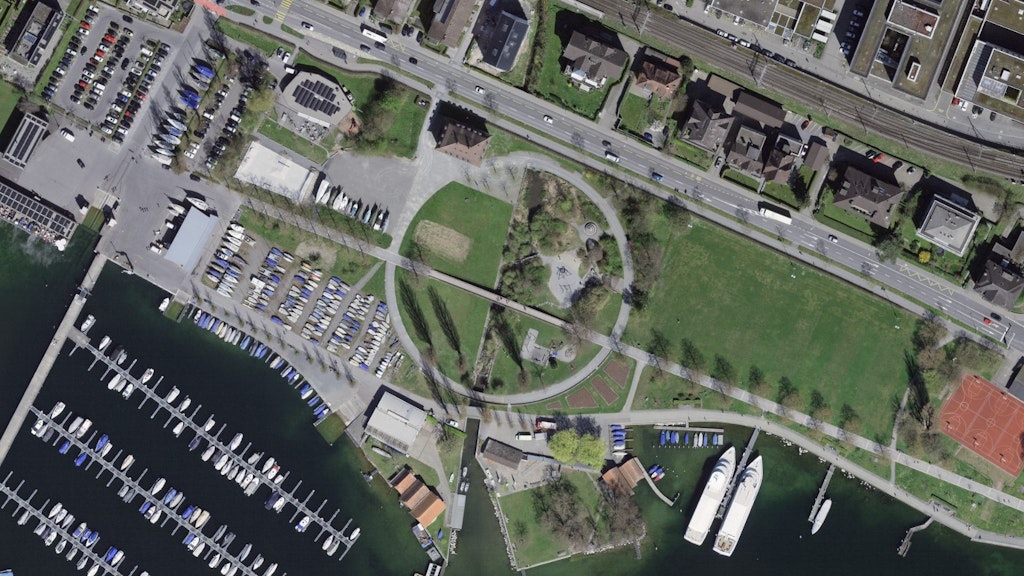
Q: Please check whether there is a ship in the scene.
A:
Yes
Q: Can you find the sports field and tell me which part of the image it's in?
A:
right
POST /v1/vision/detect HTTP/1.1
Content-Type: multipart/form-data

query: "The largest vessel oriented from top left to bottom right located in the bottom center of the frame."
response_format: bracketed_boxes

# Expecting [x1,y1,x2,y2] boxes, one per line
[409,519,436,552]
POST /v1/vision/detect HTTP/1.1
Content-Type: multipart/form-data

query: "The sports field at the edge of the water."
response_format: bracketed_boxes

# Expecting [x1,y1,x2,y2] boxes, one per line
[625,212,922,439]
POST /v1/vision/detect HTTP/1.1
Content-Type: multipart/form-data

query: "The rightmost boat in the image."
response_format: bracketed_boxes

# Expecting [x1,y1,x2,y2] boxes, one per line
[813,499,832,533]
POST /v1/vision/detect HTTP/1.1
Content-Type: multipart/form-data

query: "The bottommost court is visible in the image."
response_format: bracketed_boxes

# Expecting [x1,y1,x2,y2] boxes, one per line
[940,374,1024,476]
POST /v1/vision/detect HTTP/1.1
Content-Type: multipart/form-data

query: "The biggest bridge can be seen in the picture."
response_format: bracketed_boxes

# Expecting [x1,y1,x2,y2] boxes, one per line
[427,269,557,321]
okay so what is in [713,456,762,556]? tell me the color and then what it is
white ship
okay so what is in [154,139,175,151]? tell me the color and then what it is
gray boat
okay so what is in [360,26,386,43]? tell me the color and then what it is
white vehicle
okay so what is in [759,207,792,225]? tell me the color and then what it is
white vehicle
